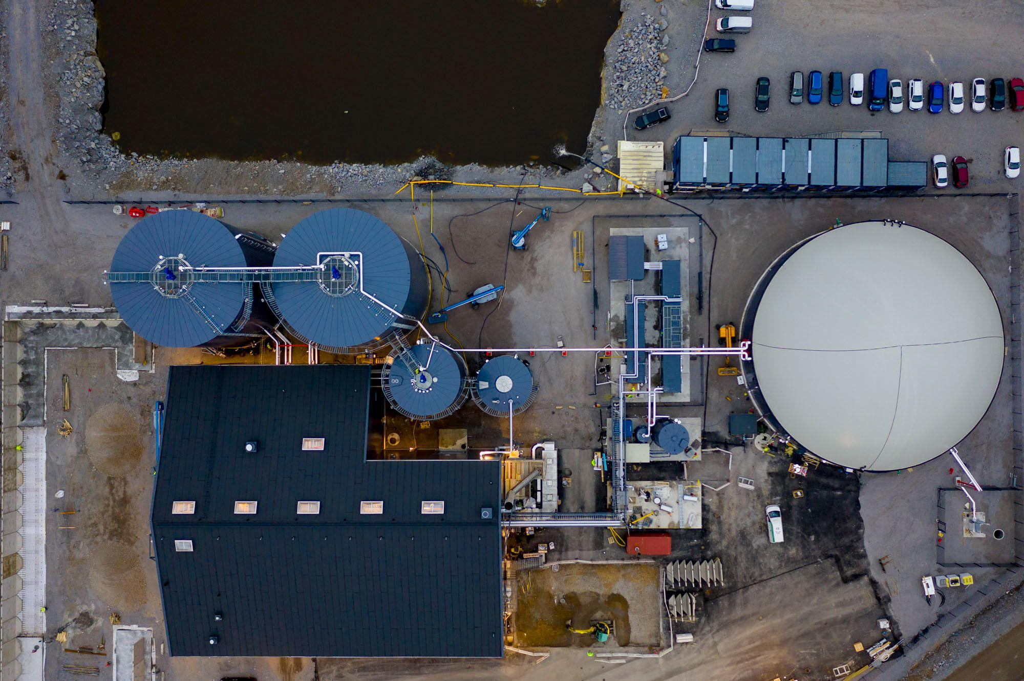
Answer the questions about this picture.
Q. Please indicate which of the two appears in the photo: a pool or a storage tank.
storage tank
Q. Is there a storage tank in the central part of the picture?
Yes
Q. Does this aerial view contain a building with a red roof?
No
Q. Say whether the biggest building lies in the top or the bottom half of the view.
bottom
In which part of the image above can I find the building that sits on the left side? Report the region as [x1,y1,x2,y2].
[149,364,503,659]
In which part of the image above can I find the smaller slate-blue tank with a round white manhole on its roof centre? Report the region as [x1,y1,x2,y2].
[469,352,540,420]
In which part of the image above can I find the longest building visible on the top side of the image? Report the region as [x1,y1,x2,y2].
[671,136,887,194]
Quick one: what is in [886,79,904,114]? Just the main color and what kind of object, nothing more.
white car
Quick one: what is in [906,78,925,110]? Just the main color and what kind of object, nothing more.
white car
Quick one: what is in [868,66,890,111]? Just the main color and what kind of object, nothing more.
blue vehicle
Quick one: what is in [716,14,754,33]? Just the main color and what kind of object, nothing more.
white vehicle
